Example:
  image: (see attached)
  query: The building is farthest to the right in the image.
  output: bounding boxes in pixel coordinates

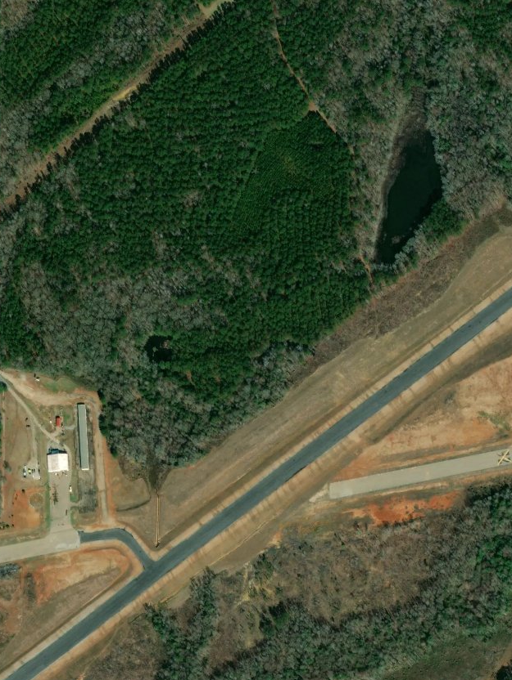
[78,404,90,470]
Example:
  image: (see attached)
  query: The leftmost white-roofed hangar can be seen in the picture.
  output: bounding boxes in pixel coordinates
[47,452,70,473]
